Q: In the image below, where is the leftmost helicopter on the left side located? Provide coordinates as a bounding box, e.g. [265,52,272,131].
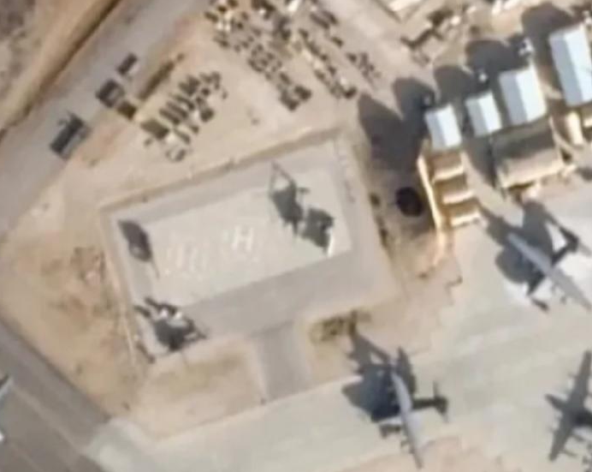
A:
[136,233,162,280]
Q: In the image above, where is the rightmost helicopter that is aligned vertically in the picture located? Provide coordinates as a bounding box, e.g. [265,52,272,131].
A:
[314,211,333,260]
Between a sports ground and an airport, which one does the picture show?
airport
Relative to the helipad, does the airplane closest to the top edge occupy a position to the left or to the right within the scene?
to its right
